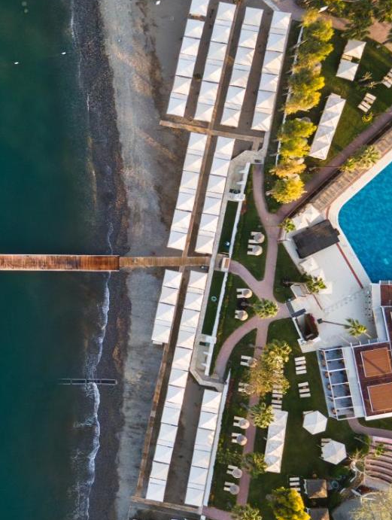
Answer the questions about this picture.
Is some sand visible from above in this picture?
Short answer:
Yes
